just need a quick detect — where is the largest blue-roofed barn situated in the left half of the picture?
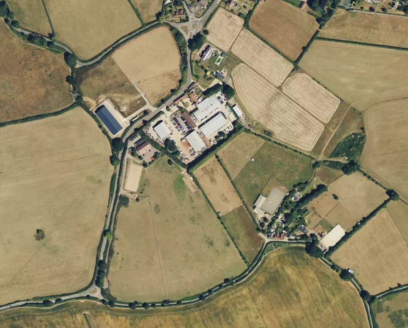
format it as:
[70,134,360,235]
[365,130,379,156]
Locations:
[95,104,123,135]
